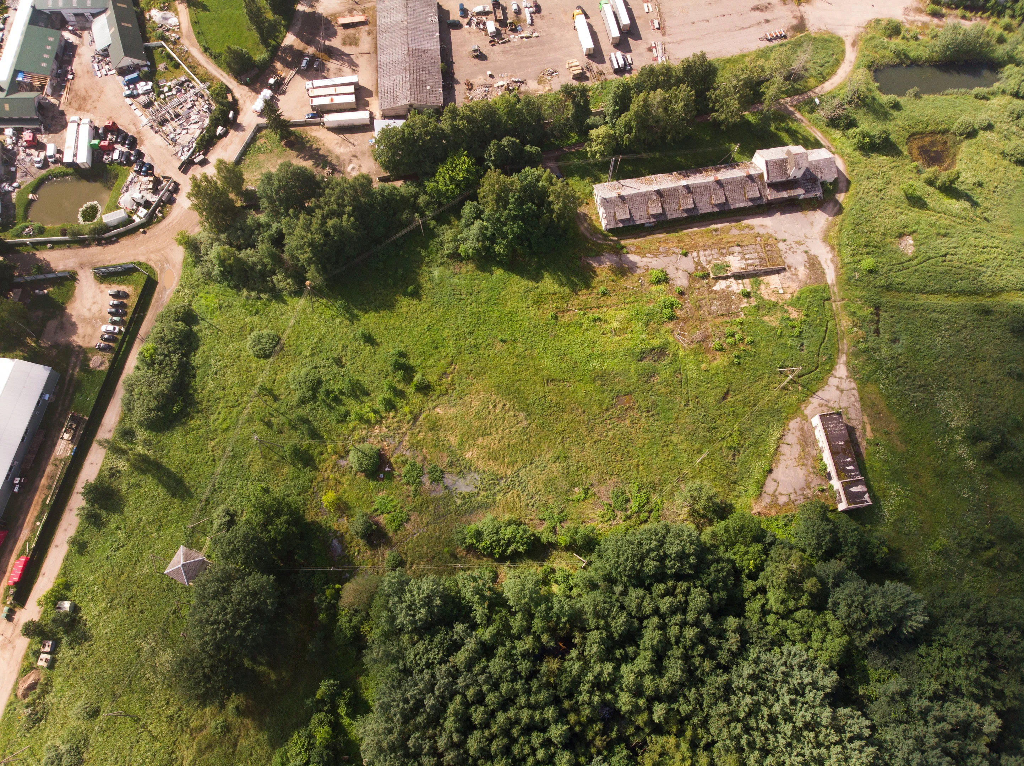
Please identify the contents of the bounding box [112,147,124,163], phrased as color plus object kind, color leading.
white vehicle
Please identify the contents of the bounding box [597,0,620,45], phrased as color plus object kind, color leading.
white truck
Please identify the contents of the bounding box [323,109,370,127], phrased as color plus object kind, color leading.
white vehicle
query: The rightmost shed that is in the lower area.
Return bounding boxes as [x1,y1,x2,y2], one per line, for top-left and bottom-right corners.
[812,411,873,510]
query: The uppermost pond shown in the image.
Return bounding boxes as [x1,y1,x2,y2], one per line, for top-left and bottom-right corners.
[872,61,997,99]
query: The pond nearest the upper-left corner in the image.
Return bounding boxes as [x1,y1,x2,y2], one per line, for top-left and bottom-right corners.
[29,176,112,227]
